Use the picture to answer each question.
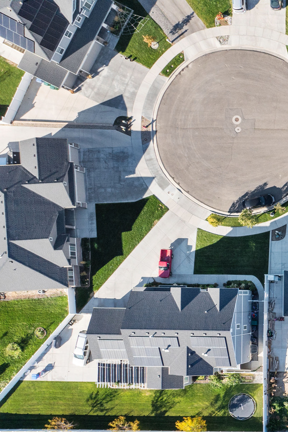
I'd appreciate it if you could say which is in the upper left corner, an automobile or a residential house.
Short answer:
residential house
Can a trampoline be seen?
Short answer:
Yes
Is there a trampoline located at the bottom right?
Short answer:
Yes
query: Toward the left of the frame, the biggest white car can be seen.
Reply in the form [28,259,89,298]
[72,331,90,365]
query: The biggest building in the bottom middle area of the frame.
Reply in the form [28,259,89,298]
[82,286,253,391]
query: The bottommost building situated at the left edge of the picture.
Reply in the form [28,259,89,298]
[0,135,86,291]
